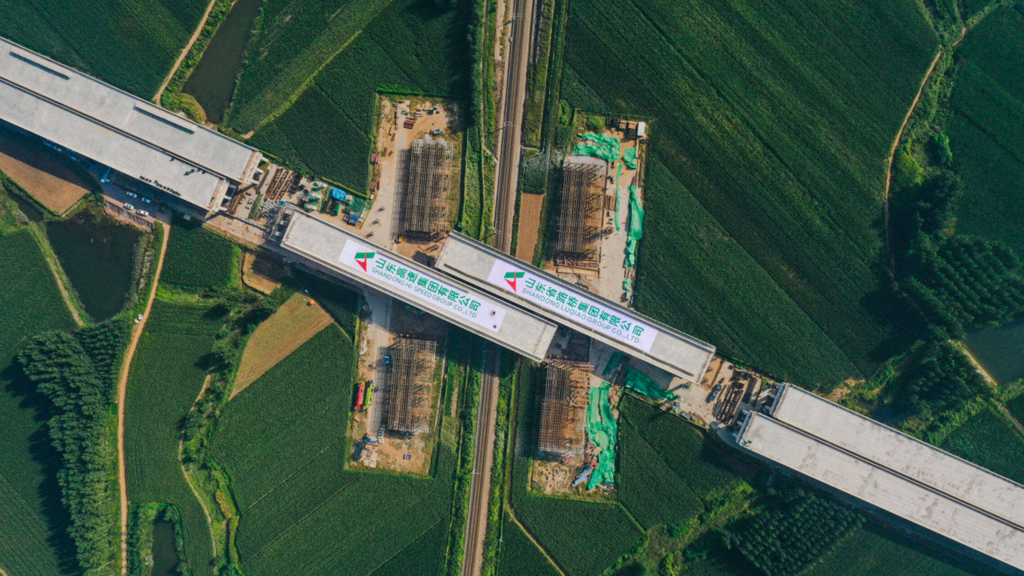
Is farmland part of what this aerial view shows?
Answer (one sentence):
Yes, the picture does contain farmland.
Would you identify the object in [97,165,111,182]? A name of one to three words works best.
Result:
vehicle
